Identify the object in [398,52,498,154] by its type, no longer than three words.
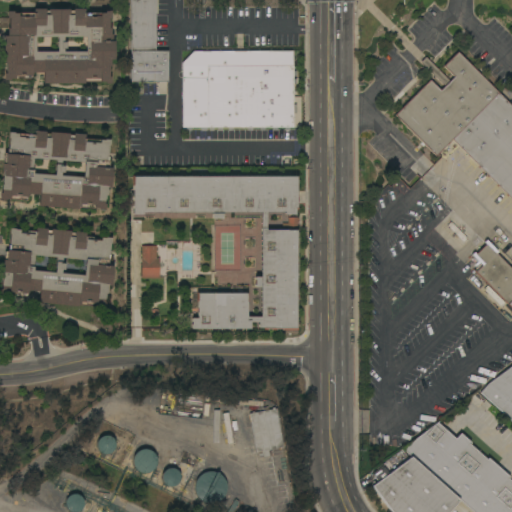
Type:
building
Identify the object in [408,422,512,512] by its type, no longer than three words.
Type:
building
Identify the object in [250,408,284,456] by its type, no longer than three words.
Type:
shed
